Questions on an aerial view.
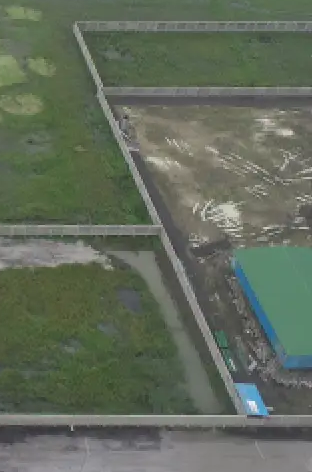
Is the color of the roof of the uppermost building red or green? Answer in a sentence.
The roof of the uppermost building looks green in the image.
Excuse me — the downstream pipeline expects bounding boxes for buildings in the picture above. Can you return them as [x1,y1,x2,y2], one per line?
[231,246,312,369]
[235,384,268,415]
